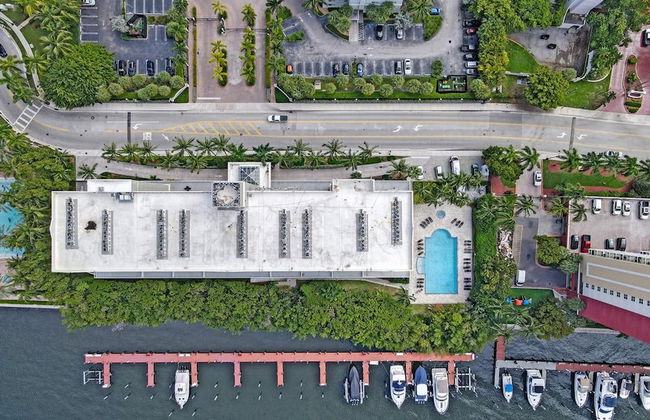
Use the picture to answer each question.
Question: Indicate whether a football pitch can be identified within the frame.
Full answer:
No, this view has no football pitch in it.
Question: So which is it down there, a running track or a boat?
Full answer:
Of the two, only a boat appears.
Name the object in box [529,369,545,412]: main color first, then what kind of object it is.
white boat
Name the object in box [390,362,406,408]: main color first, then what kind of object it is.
white boat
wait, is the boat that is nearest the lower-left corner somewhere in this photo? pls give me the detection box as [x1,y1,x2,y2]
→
[175,365,190,409]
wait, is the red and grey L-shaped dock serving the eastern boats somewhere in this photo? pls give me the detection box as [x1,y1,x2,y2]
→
[492,334,650,393]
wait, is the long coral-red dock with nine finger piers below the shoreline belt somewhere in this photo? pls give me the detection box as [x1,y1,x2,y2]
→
[84,350,477,390]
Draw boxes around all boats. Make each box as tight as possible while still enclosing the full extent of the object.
[390,362,406,408]
[432,364,449,415]
[639,374,650,414]
[619,374,632,399]
[595,372,620,420]
[573,371,590,408]
[175,365,190,409]
[348,365,361,407]
[502,370,514,402]
[529,369,545,412]
[415,366,427,406]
